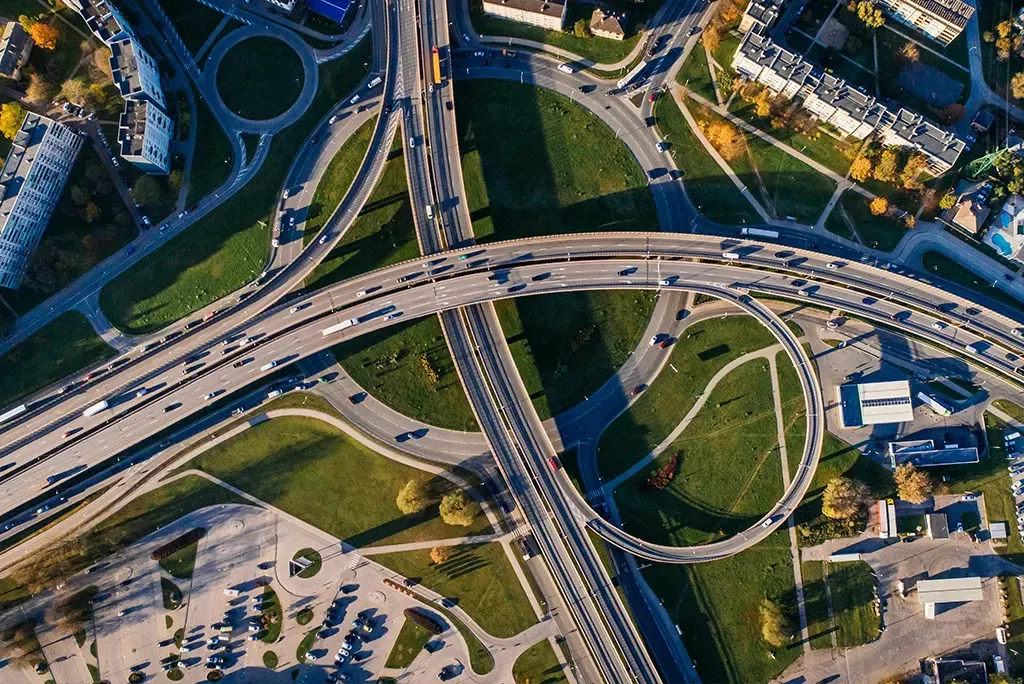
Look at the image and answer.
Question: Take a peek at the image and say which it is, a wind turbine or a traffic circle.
traffic circle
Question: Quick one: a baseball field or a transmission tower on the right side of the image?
transmission tower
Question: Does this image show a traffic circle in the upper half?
Yes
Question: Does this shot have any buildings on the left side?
Yes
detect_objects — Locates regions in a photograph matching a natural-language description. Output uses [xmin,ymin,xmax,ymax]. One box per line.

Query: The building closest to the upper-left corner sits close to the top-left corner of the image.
[0,22,42,83]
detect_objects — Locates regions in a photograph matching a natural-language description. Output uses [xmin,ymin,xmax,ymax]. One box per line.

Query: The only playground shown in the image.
[815,18,848,52]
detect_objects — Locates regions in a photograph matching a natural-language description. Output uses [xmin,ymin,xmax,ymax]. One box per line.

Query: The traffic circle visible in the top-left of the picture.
[202,21,316,135]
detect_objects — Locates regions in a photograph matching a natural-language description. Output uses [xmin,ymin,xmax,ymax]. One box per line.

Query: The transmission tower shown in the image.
[967,27,1014,171]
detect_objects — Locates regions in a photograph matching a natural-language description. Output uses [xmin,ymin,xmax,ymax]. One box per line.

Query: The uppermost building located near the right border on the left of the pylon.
[867,0,976,46]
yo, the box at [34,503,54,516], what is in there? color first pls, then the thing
blue vehicle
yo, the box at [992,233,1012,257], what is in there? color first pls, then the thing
blue swimming pool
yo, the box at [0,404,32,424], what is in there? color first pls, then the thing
white vehicle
